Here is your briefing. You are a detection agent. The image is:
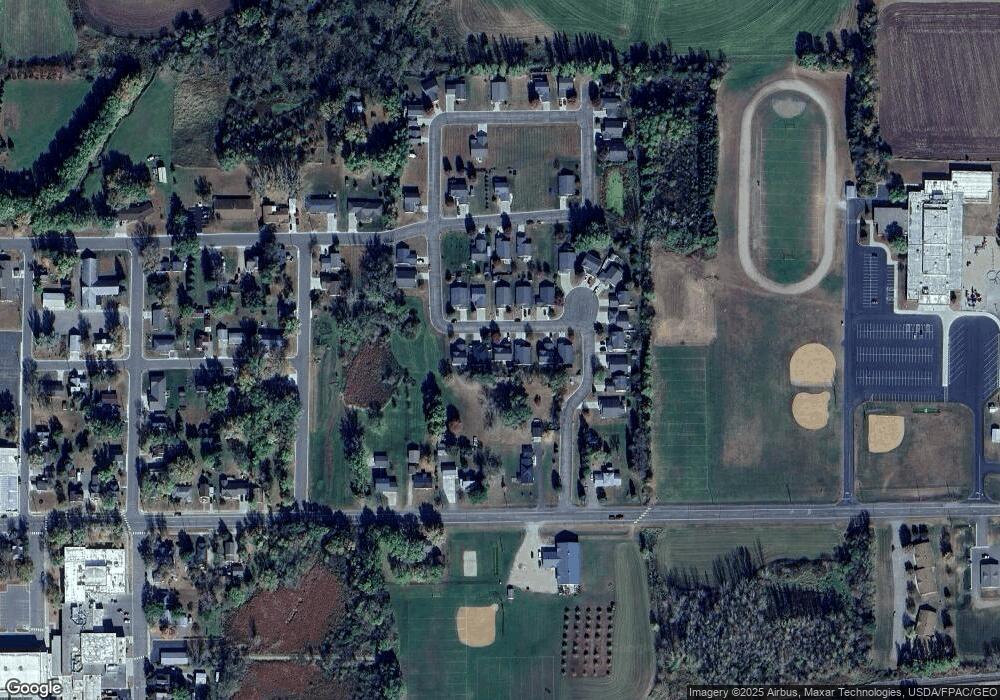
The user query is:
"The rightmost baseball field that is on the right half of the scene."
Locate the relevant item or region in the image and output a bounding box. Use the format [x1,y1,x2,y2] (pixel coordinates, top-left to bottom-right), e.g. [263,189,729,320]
[866,412,905,453]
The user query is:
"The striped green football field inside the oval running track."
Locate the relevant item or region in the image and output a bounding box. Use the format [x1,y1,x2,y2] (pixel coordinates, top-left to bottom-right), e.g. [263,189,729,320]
[756,117,823,279]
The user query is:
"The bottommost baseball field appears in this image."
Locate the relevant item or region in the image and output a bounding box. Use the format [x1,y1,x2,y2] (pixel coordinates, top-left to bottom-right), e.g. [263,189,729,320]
[457,600,504,647]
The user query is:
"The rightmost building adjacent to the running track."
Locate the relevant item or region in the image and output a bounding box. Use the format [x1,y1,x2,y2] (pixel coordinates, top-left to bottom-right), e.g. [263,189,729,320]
[874,172,991,306]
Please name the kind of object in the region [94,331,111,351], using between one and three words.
house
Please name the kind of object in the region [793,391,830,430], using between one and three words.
baseball field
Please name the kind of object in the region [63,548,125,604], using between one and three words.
building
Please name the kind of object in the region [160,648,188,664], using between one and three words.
house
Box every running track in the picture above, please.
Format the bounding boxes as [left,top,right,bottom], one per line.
[738,81,846,294]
